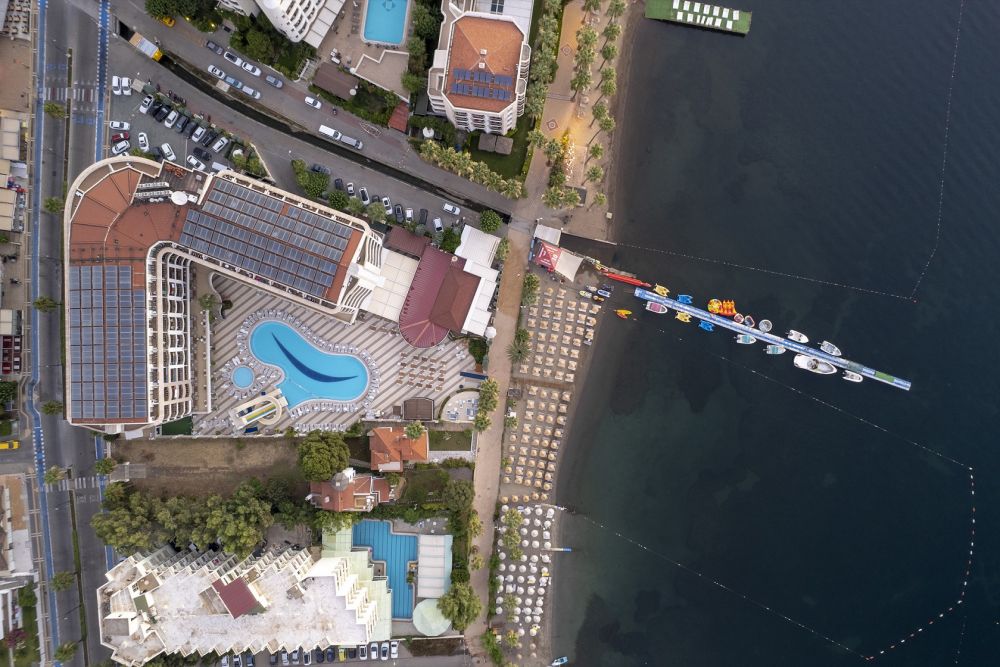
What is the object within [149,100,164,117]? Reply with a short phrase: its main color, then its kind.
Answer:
black car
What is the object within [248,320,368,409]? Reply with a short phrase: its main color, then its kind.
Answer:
blue swimming pool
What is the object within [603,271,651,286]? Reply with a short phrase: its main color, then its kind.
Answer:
red boat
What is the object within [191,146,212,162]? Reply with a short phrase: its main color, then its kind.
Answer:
black car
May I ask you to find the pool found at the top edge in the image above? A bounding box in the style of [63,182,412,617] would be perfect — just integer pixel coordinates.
[361,0,410,45]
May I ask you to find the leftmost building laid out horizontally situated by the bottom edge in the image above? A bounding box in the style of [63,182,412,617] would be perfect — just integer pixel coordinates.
[98,529,387,667]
